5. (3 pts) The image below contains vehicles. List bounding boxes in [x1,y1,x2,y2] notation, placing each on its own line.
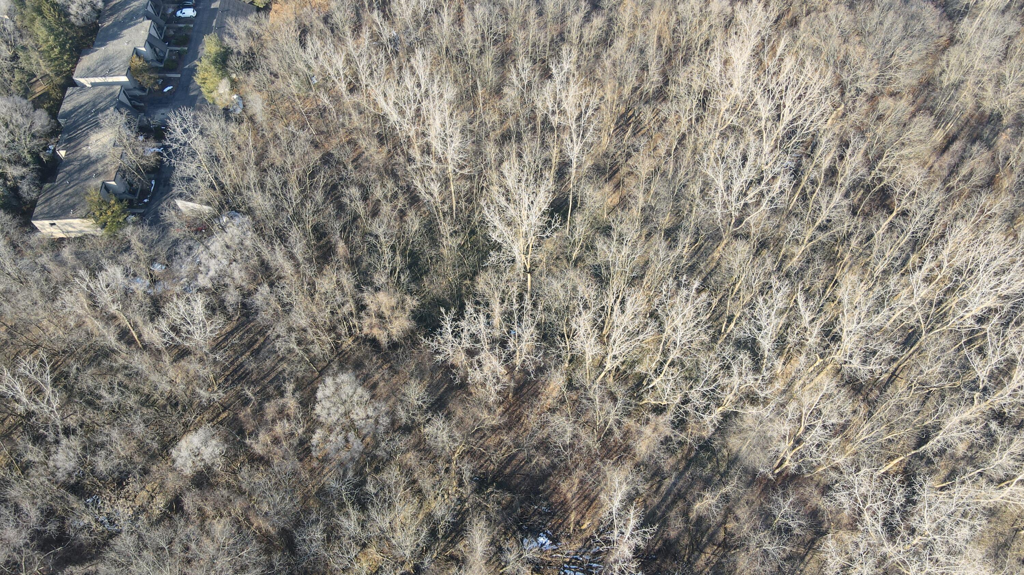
[177,0,198,6]
[175,8,197,19]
